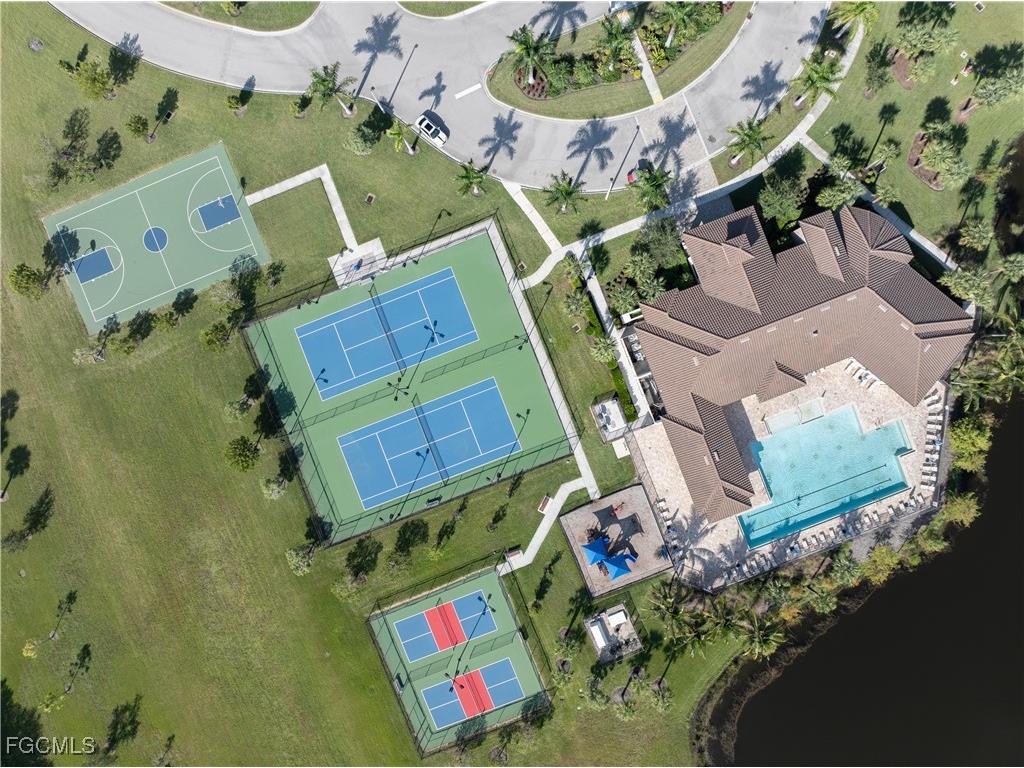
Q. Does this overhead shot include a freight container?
No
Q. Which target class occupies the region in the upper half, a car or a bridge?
car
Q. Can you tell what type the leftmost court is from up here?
basketball court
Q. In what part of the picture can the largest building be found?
right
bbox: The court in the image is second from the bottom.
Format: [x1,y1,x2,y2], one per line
[394,590,497,663]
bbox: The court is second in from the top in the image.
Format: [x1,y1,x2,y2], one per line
[294,267,479,401]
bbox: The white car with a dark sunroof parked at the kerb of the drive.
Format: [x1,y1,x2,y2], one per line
[416,115,447,147]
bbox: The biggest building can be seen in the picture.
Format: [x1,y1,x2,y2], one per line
[635,205,975,526]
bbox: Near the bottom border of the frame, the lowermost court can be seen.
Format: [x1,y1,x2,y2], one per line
[421,657,525,730]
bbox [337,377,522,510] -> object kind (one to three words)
tennis court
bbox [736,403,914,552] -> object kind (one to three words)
swimming pool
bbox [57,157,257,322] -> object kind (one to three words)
basketball court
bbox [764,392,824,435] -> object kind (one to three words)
swimming pool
